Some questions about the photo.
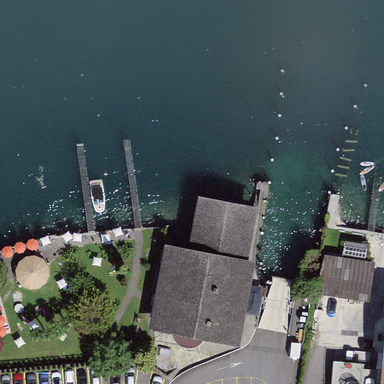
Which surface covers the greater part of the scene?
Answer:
water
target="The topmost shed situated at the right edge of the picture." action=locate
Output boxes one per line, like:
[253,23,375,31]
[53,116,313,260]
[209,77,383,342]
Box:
[344,240,368,257]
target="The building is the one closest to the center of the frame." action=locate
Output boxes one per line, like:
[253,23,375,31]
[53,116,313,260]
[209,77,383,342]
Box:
[188,196,259,259]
